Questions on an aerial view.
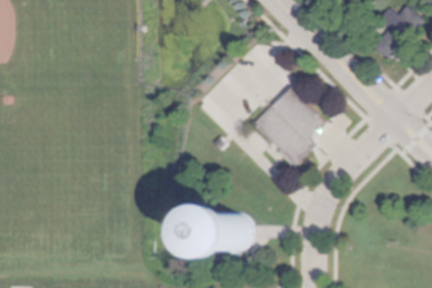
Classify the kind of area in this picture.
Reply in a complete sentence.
This image shows a sports ground.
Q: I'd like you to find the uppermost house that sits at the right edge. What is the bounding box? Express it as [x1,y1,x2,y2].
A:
[384,3,428,28]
